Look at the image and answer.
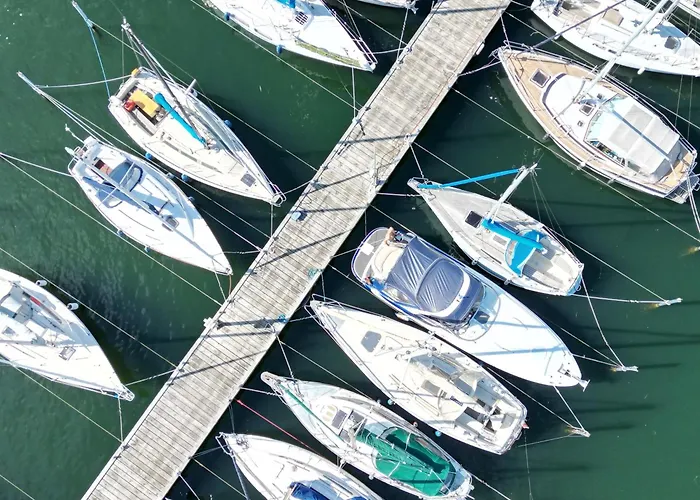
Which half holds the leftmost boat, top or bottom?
bottom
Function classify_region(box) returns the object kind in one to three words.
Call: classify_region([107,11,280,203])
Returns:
boat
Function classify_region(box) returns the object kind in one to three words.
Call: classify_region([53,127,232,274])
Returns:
boat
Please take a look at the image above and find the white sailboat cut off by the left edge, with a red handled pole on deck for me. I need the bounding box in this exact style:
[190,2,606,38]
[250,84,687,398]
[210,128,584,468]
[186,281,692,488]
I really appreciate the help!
[0,262,129,400]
